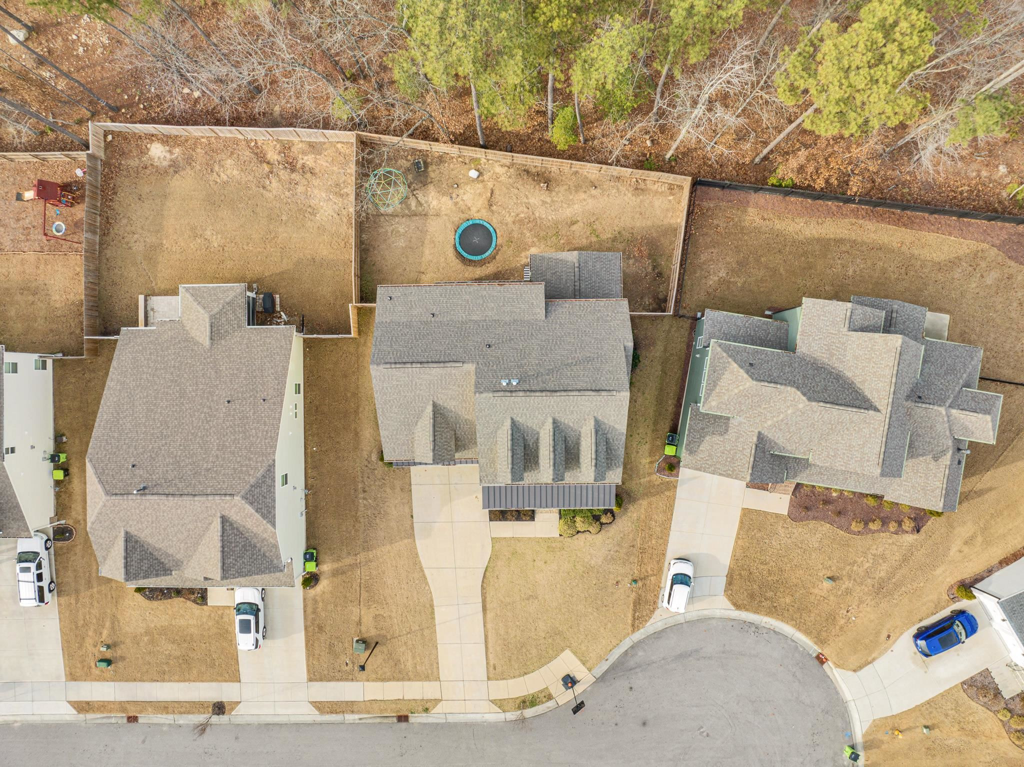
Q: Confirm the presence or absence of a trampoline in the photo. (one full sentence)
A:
Yes, you can see a trampoline in this photo.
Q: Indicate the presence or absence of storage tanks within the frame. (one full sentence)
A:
No, I can see no storage tank in this picture.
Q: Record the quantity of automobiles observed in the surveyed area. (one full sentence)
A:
There are 4 automobiles in the image.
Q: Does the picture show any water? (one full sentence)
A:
No, the picture contains no water.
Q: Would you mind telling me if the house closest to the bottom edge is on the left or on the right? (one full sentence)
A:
The house closest to the bottom edge appears in the right half of the scene.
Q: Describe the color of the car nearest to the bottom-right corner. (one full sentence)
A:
The color of the car nearest to the bottom-right corner is blue.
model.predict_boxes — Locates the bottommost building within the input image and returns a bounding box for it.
[976,556,1024,661]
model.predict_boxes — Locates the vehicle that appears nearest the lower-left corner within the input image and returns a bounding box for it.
[14,529,56,601]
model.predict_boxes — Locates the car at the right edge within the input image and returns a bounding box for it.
[914,611,983,660]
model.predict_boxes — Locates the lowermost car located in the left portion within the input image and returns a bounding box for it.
[232,588,266,649]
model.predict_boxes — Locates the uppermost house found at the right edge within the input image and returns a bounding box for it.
[675,296,1005,512]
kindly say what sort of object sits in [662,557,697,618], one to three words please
car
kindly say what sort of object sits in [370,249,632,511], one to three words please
house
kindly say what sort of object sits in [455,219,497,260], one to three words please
trampoline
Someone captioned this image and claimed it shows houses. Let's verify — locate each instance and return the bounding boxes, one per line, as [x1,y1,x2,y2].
[85,283,313,588]
[370,249,632,511]
[976,556,1024,661]
[675,296,1005,512]
[0,344,64,538]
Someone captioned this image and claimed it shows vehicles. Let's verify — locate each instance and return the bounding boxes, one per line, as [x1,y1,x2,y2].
[662,557,697,618]
[232,588,266,649]
[14,529,56,601]
[914,611,983,660]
